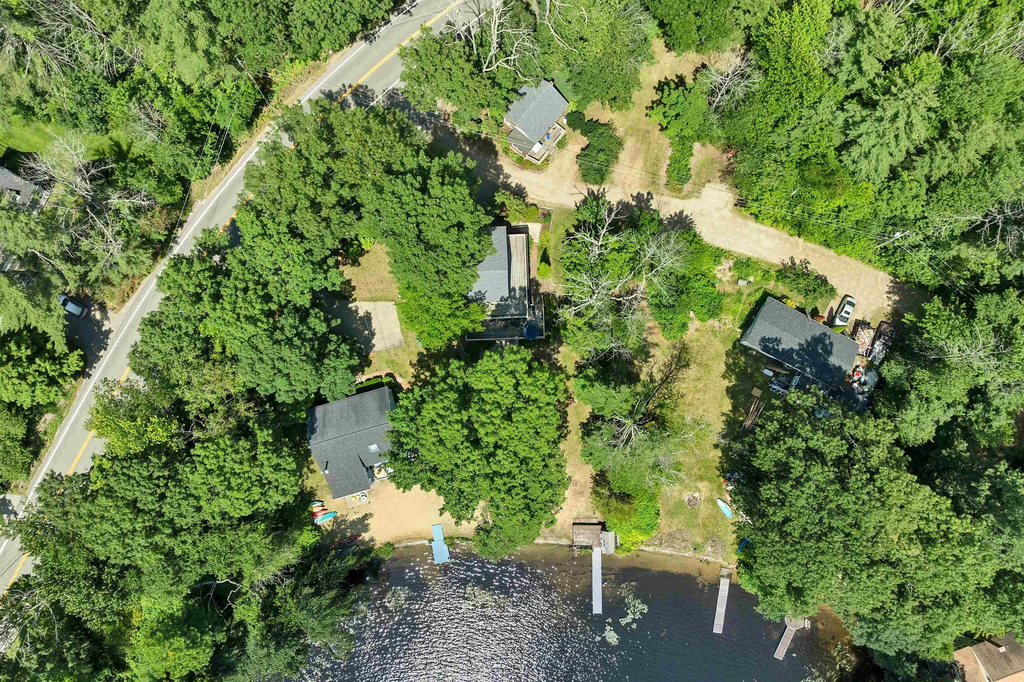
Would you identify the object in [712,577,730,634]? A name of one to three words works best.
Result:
pier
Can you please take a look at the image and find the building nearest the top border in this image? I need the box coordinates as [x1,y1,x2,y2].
[499,79,569,159]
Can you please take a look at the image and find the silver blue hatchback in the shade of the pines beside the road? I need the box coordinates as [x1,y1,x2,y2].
[64,294,90,321]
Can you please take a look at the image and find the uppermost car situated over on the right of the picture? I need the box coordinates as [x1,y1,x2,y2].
[831,293,858,325]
